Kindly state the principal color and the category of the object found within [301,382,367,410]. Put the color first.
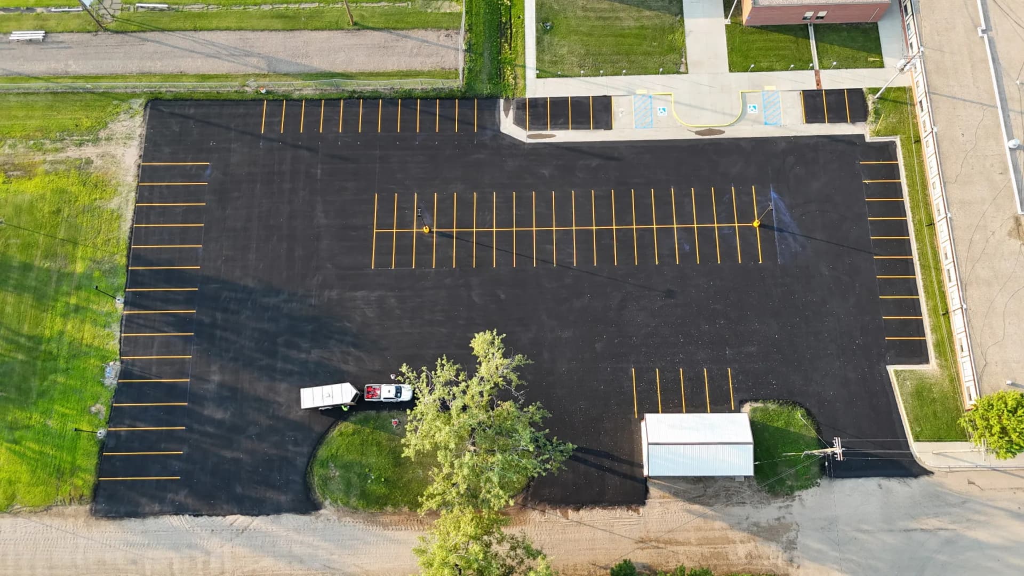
white trailer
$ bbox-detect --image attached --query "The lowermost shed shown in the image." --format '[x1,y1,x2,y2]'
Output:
[641,411,756,479]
